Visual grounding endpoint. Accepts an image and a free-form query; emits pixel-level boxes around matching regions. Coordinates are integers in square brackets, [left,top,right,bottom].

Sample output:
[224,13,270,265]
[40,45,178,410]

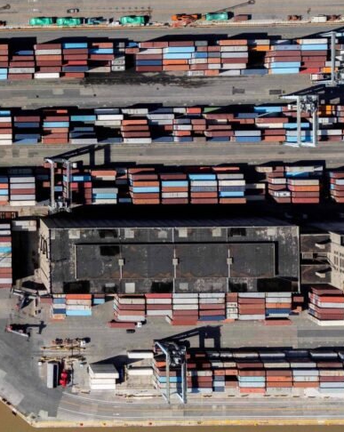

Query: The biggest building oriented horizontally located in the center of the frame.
[43,219,299,293]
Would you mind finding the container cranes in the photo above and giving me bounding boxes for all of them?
[149,341,188,405]
[306,33,344,86]
[40,156,72,210]
[274,95,319,146]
